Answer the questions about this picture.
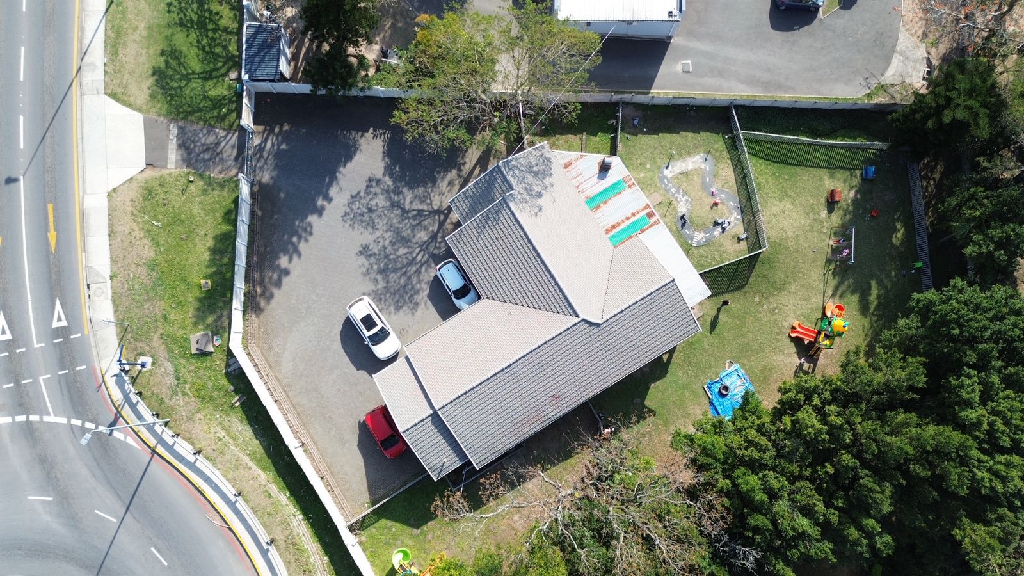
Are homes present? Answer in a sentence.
Yes, a home can be made out from above.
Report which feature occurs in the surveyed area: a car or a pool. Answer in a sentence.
Looking from above, you can make out a car.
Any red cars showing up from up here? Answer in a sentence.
Yes, a red car can be made out from above.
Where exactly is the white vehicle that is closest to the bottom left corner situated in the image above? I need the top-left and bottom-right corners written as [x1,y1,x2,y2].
[349,297,400,361]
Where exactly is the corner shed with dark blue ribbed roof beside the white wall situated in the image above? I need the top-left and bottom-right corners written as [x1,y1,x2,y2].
[242,22,289,82]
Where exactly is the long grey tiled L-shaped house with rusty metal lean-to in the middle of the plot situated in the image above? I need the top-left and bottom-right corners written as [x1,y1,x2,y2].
[372,141,712,482]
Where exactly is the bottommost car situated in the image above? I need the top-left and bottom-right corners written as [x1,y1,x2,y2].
[362,404,405,457]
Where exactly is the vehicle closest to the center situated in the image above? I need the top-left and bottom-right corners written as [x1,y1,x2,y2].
[434,257,477,310]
